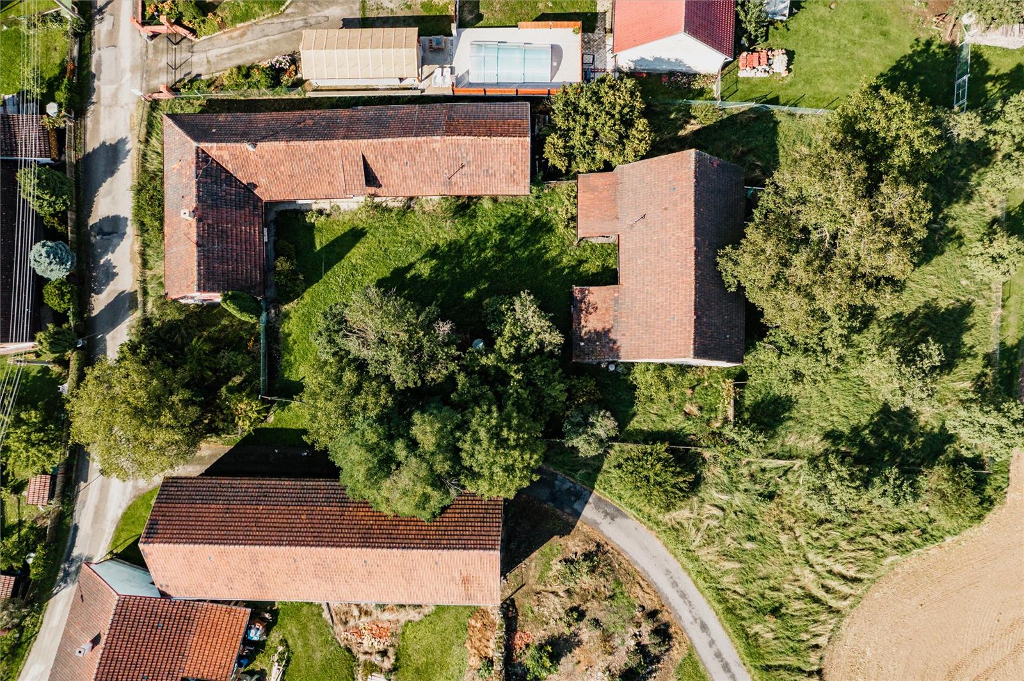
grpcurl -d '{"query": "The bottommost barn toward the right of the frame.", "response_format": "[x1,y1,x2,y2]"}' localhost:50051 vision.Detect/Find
[571,149,745,368]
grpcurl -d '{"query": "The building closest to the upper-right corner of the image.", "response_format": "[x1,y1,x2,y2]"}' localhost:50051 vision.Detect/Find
[611,0,735,75]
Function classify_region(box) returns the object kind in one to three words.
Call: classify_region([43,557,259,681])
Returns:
house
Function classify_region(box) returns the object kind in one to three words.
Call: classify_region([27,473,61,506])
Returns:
shed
